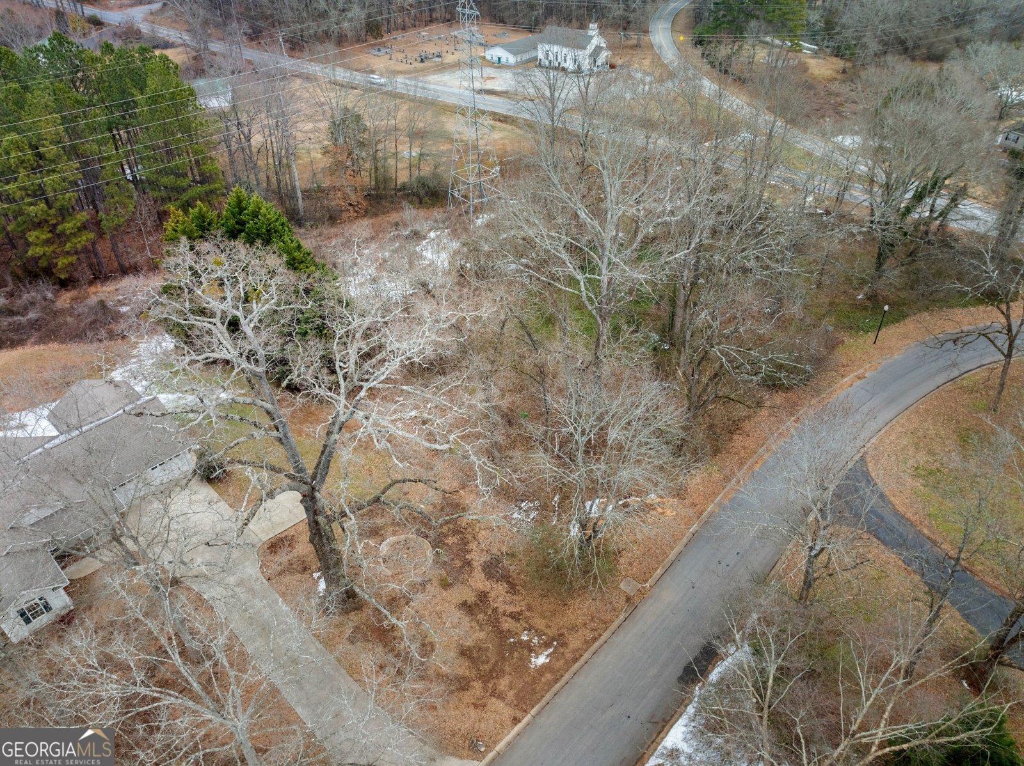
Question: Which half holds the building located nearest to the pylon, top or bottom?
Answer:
top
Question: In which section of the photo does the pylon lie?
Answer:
top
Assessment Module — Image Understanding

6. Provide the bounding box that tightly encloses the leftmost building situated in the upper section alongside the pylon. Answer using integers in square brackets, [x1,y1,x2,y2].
[484,42,539,66]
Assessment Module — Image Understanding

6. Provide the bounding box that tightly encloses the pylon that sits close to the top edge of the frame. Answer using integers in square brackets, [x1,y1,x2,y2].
[439,0,502,217]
